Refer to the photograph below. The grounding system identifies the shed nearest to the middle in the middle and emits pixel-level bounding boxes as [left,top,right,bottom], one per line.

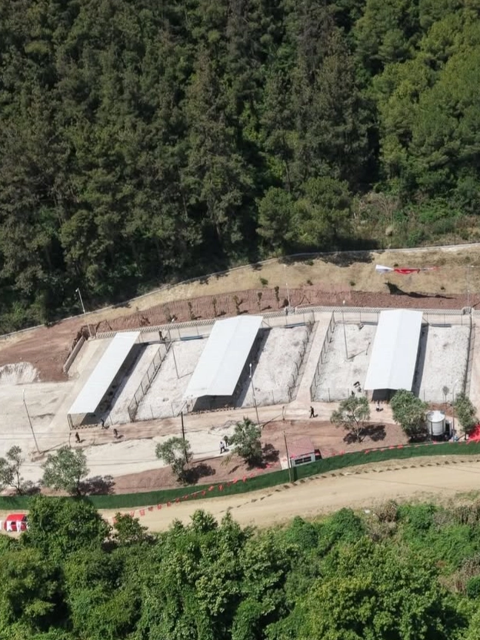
[182,314,263,417]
